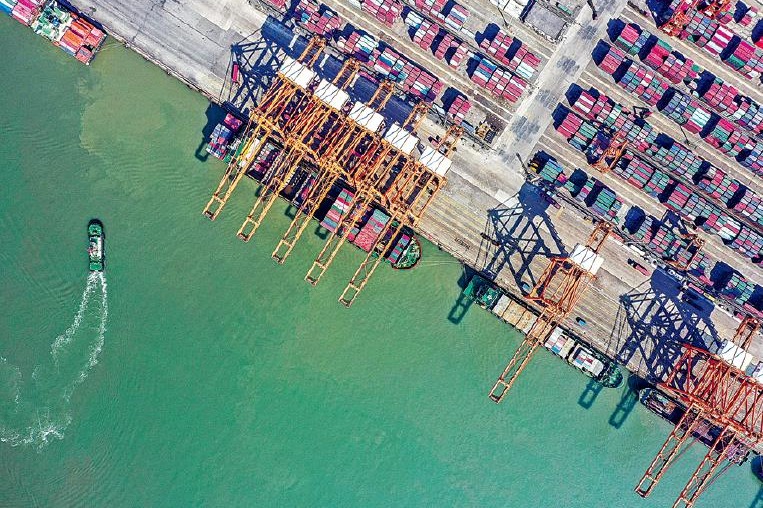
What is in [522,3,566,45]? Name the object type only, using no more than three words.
building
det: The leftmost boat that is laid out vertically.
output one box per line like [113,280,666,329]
[88,220,107,271]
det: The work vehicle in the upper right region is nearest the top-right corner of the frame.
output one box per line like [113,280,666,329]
[641,107,666,124]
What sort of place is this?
port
